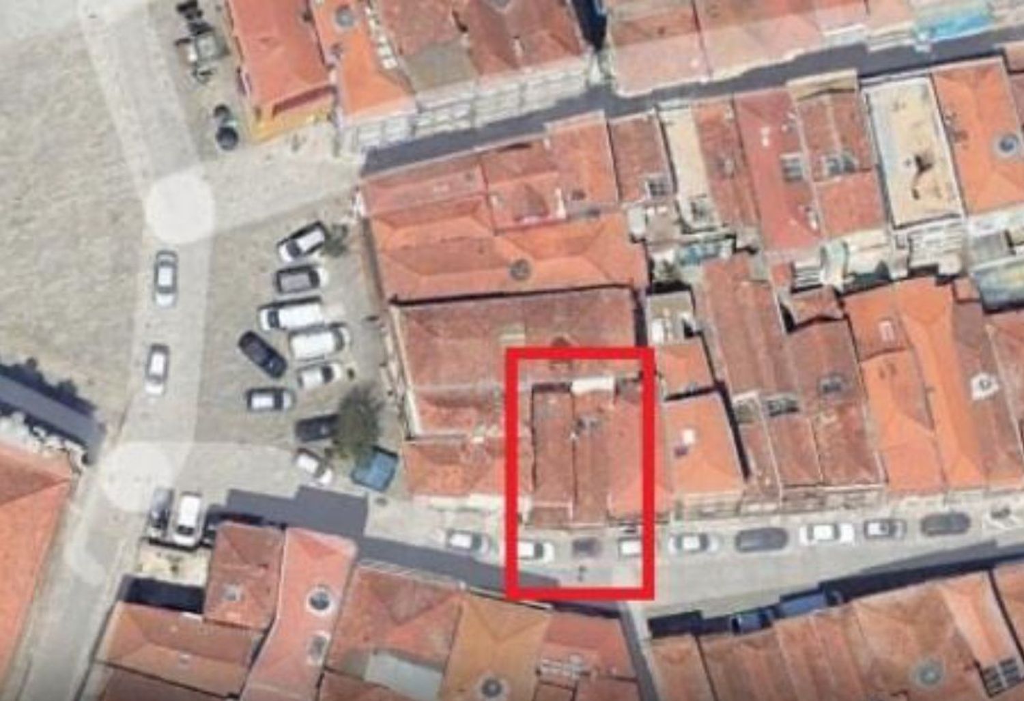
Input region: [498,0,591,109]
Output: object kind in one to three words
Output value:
house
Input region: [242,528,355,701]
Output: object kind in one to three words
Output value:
house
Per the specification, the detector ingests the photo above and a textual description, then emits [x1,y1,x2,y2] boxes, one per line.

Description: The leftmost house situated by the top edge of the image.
[215,0,334,140]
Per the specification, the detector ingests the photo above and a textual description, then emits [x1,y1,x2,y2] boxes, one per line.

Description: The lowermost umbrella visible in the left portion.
[215,125,238,148]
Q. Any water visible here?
No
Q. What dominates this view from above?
buildings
